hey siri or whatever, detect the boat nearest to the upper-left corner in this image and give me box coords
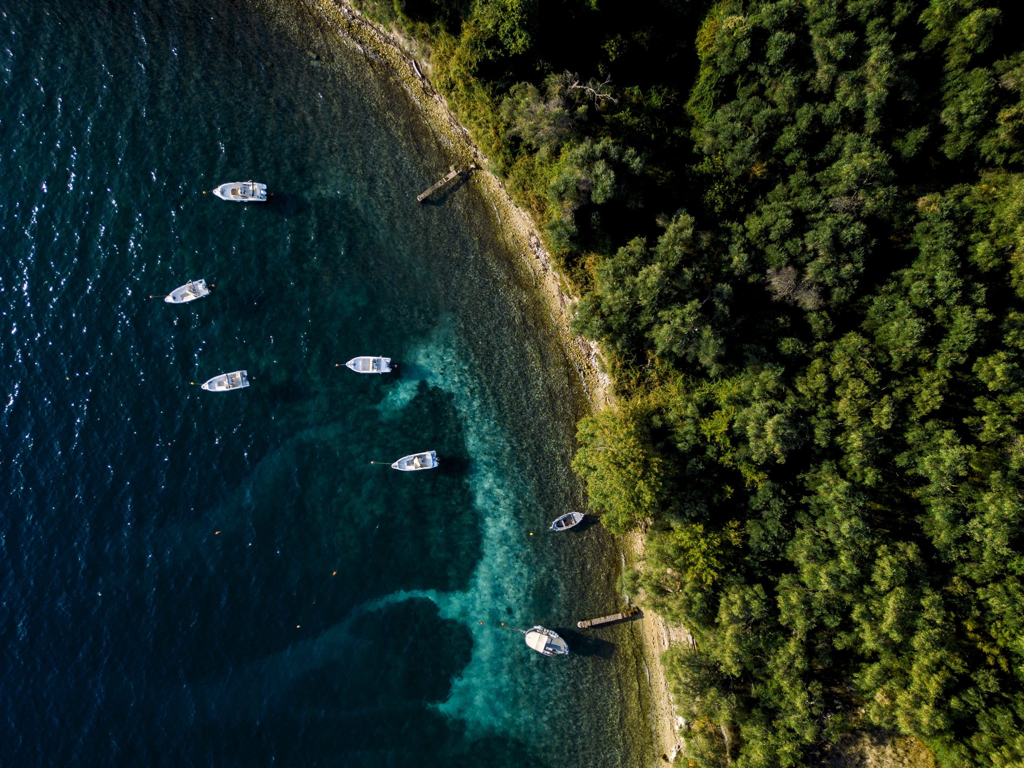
[212,178,275,203]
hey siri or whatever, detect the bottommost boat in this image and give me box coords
[515,625,579,655]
